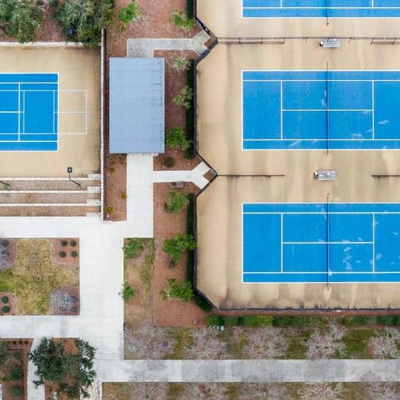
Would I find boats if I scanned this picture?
No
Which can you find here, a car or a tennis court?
tennis court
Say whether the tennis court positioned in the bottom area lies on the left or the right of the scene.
right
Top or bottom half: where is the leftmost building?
top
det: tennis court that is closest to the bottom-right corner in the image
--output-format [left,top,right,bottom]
[197,175,400,309]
